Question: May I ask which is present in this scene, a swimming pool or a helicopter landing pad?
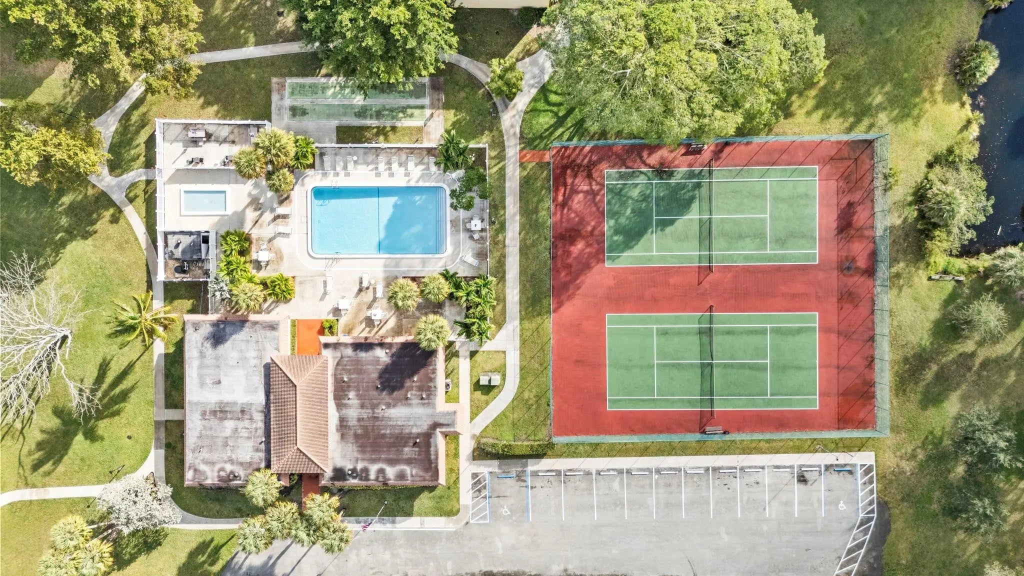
swimming pool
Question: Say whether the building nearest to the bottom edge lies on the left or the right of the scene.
left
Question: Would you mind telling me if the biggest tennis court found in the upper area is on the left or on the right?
right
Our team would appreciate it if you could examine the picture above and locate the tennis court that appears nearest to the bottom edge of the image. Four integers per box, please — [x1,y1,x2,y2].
[606,313,819,411]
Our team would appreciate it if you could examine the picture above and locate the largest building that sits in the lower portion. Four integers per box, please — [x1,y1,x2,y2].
[183,314,464,487]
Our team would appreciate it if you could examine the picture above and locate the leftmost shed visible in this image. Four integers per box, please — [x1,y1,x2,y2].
[168,233,201,258]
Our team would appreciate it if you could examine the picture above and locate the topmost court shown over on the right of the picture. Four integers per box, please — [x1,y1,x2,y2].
[605,166,819,266]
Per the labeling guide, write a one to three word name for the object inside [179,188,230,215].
swimming pool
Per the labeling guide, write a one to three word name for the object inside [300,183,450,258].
swimming pool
